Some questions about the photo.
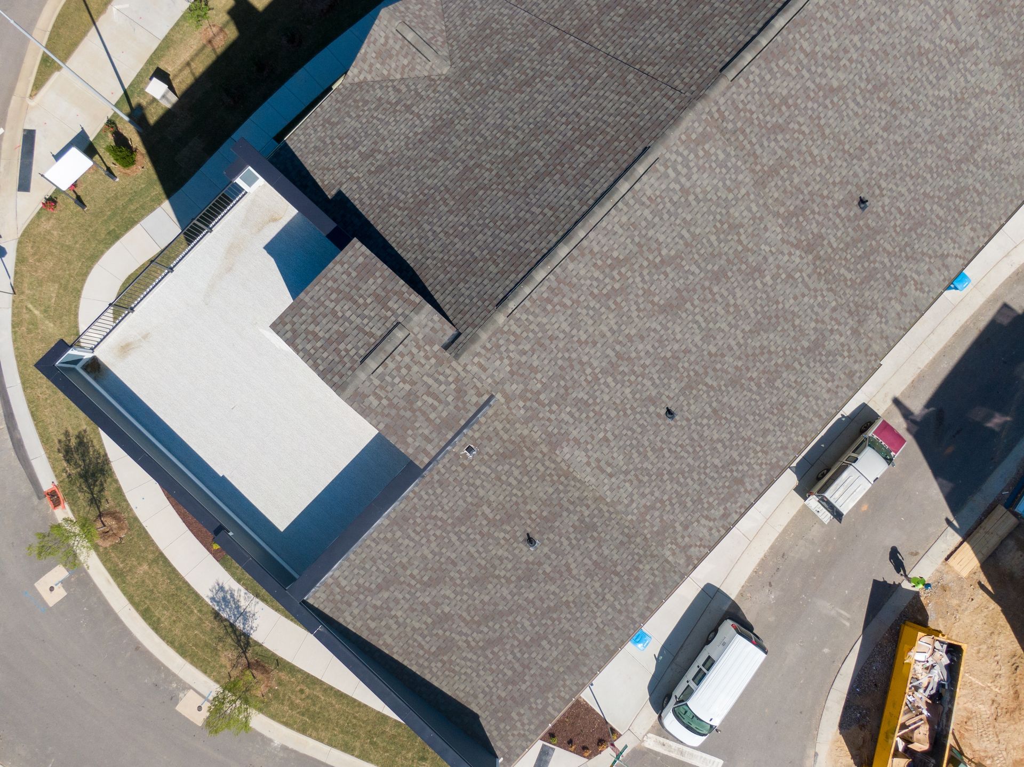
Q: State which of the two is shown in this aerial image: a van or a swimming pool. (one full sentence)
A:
This aerial view contains a van.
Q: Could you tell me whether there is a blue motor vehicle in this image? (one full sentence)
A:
No, the scene contains no blue motor vehicle.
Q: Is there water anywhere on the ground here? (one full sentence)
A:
No, there is no water in the image.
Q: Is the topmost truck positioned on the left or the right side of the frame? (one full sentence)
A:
You can find the topmost truck on the right side of the picture.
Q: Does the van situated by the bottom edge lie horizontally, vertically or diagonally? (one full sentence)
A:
From this overhead view, the van situated by the bottom edge appears to run diagonally.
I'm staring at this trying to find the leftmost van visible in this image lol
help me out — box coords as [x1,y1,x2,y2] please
[656,616,770,746]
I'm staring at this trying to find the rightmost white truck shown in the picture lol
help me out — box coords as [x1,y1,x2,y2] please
[804,416,906,527]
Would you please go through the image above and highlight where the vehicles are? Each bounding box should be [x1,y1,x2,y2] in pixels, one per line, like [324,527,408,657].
[804,416,906,527]
[656,616,770,746]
